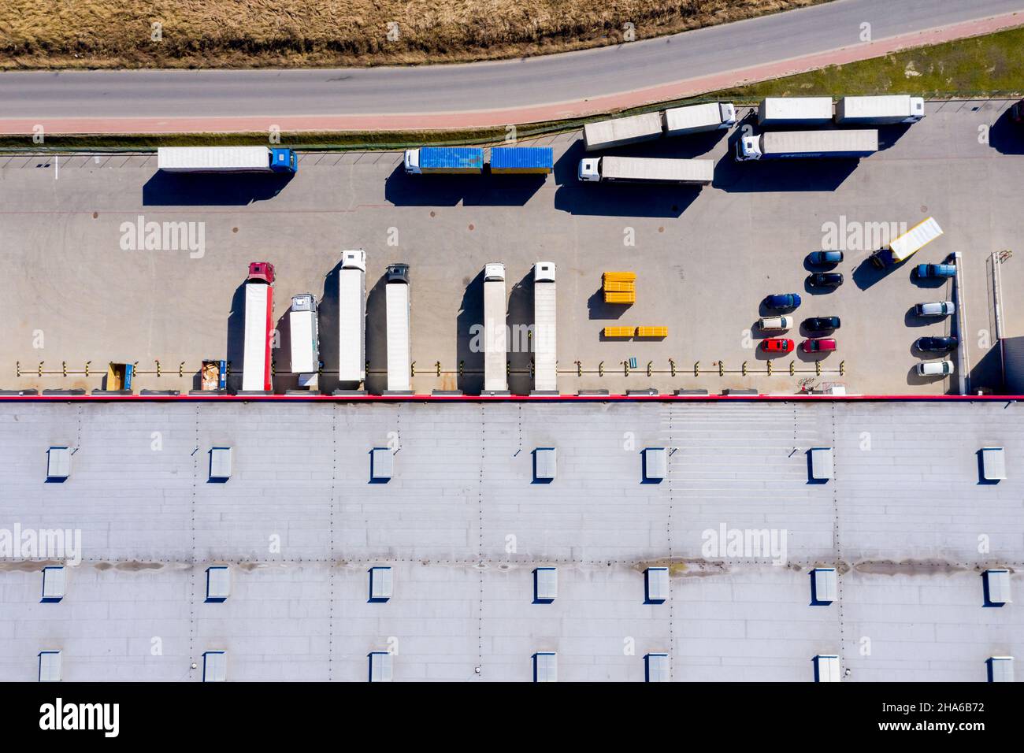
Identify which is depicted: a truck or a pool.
truck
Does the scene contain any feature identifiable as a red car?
Yes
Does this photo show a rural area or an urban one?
urban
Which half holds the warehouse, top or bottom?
bottom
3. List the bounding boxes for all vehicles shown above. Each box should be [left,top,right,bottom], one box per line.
[1007,97,1024,124]
[339,249,367,384]
[915,335,958,353]
[157,149,300,179]
[764,291,801,309]
[915,359,953,376]
[808,248,844,265]
[243,263,277,390]
[809,270,844,287]
[581,103,737,150]
[761,337,794,354]
[579,157,714,189]
[914,299,954,317]
[386,263,413,390]
[404,148,553,176]
[734,130,879,163]
[914,262,958,278]
[758,314,794,332]
[865,216,943,273]
[484,261,507,390]
[801,337,838,354]
[533,262,557,390]
[290,295,320,388]
[804,315,841,332]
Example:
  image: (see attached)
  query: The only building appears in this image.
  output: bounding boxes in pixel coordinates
[0,336,1024,753]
